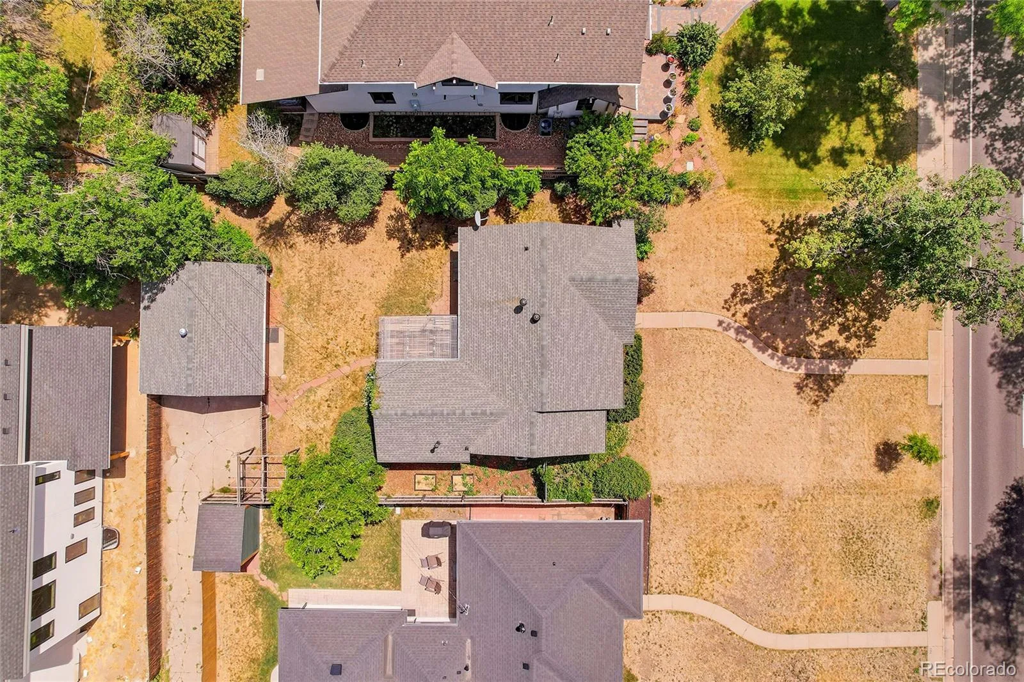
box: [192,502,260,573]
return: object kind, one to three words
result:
shed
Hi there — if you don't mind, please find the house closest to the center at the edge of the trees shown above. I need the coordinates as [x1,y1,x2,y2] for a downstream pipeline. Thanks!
[374,220,638,464]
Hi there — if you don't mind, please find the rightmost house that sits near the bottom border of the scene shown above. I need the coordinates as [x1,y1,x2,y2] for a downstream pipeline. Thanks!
[278,518,644,682]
